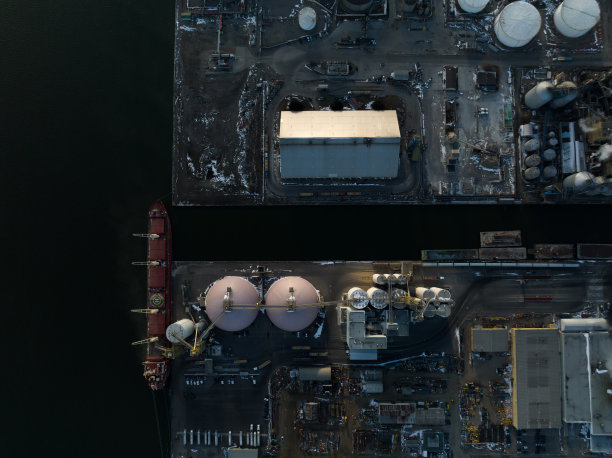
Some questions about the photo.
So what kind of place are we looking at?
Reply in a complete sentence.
This looks like a port.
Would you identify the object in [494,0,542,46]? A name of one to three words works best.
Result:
storage tank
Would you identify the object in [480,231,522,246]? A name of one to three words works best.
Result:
ship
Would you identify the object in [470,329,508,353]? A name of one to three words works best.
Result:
shed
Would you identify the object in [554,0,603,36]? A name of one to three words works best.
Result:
storage tank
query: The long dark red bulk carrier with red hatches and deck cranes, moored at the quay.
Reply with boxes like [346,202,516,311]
[130,194,173,456]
